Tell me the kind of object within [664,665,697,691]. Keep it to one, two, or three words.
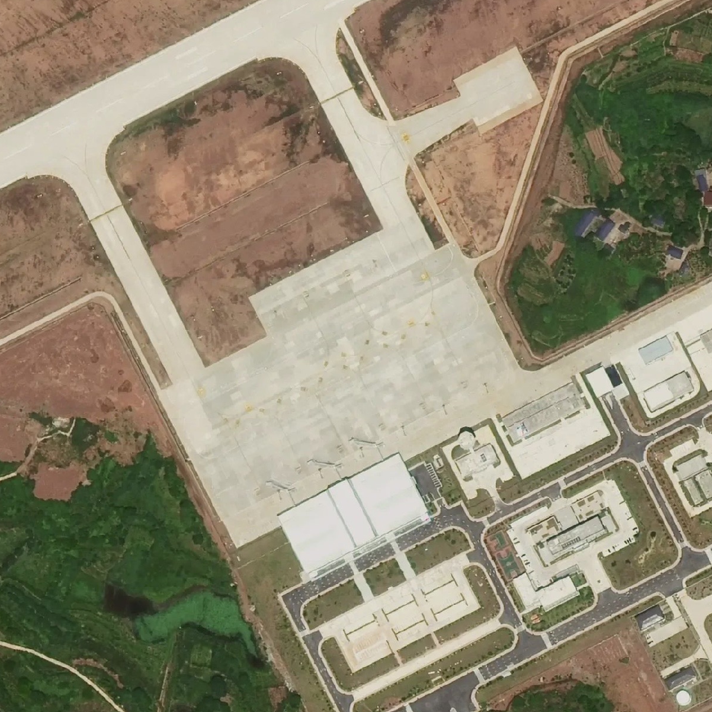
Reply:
house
